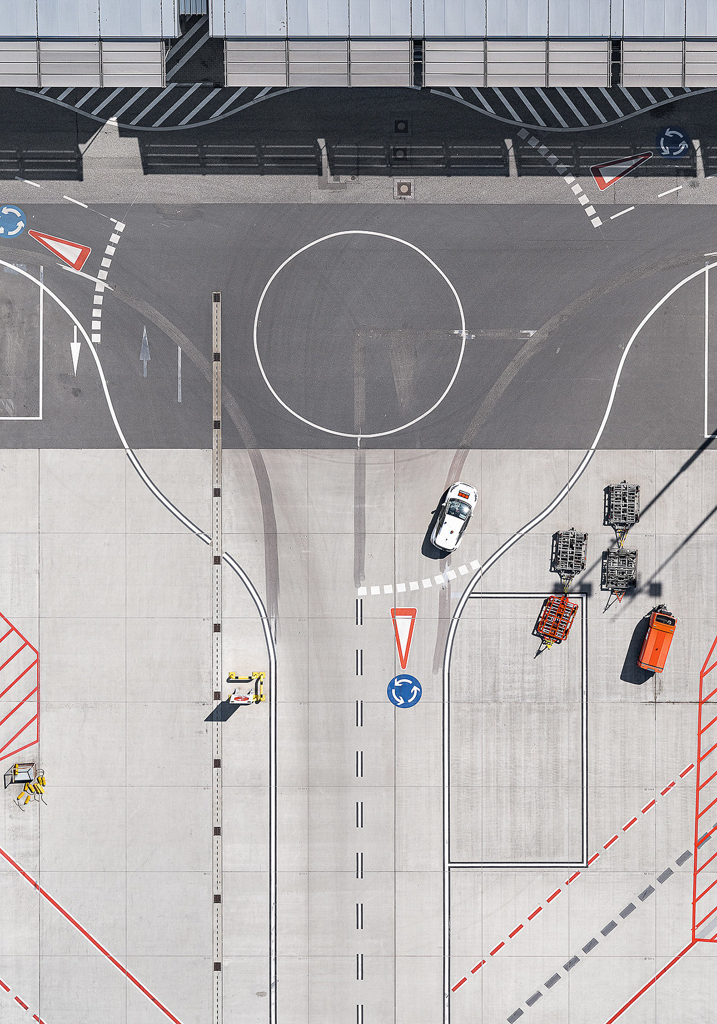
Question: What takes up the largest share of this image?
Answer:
paved ground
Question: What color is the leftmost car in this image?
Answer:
white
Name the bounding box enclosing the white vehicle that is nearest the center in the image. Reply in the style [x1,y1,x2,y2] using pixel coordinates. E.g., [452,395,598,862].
[431,479,479,554]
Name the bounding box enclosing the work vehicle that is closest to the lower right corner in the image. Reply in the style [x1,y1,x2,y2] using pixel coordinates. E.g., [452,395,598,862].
[639,605,679,672]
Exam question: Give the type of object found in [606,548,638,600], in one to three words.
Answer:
trailer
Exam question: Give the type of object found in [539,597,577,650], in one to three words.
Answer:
trailer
